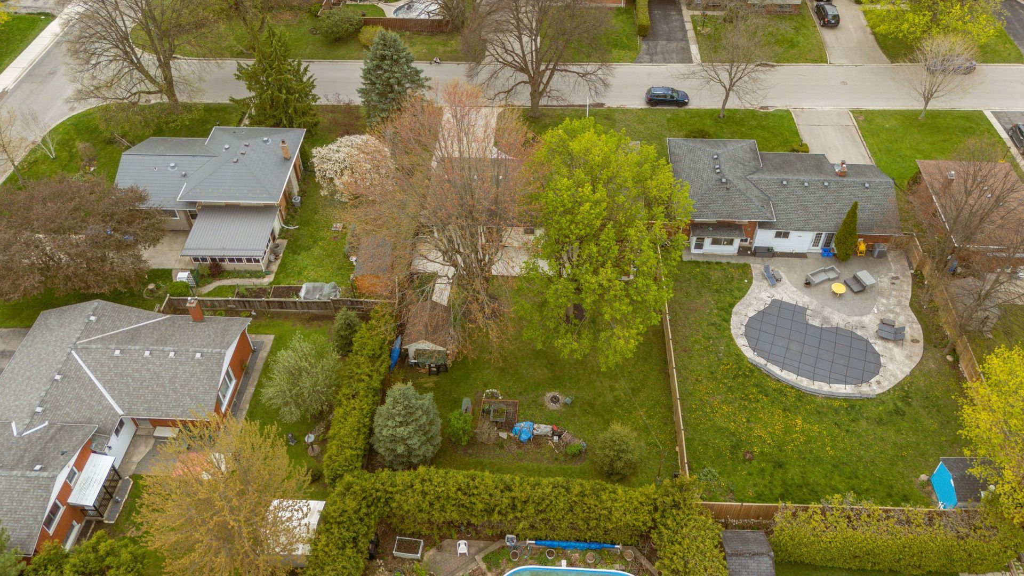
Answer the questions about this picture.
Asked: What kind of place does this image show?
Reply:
residential area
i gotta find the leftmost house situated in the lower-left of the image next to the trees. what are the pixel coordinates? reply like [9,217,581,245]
[0,299,256,576]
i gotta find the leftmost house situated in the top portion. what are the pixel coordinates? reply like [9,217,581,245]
[114,126,307,278]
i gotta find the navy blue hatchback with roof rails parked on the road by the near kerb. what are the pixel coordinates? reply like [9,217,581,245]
[645,83,690,105]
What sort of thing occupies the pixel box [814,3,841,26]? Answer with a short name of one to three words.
car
